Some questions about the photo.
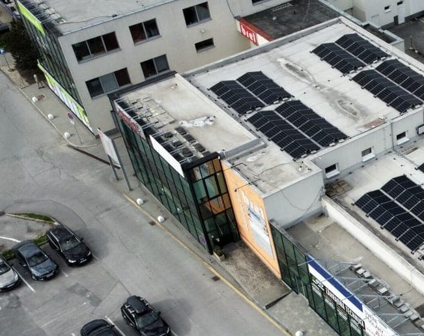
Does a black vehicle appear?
Yes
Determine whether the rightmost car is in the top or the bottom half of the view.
bottom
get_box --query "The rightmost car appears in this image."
[117,297,168,336]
